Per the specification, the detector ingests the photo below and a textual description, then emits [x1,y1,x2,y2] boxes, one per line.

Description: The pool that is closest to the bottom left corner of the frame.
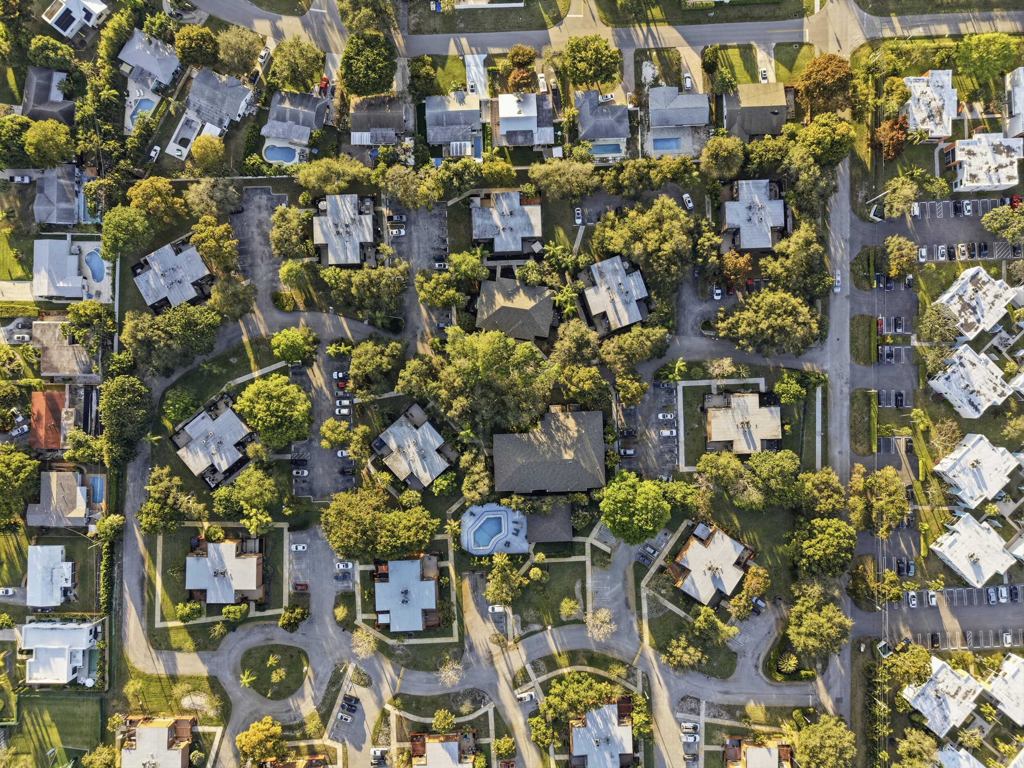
[86,649,98,679]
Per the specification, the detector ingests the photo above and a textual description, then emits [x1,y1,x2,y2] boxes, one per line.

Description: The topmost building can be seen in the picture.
[42,0,112,39]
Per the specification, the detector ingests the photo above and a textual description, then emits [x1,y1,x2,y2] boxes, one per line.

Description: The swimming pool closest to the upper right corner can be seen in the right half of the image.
[653,137,682,151]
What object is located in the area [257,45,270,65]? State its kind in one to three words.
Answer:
vehicle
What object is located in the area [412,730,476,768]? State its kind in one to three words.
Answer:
building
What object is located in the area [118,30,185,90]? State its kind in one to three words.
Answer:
house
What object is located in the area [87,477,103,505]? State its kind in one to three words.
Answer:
swimming pool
